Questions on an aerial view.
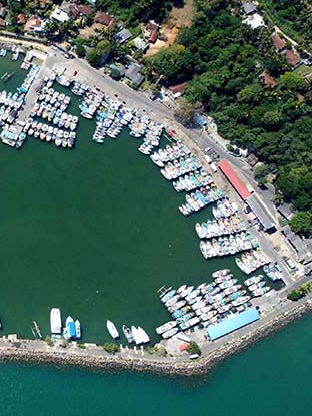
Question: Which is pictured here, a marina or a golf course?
marina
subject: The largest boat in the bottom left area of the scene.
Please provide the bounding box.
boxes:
[50,307,62,333]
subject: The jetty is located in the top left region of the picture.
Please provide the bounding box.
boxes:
[10,61,56,140]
